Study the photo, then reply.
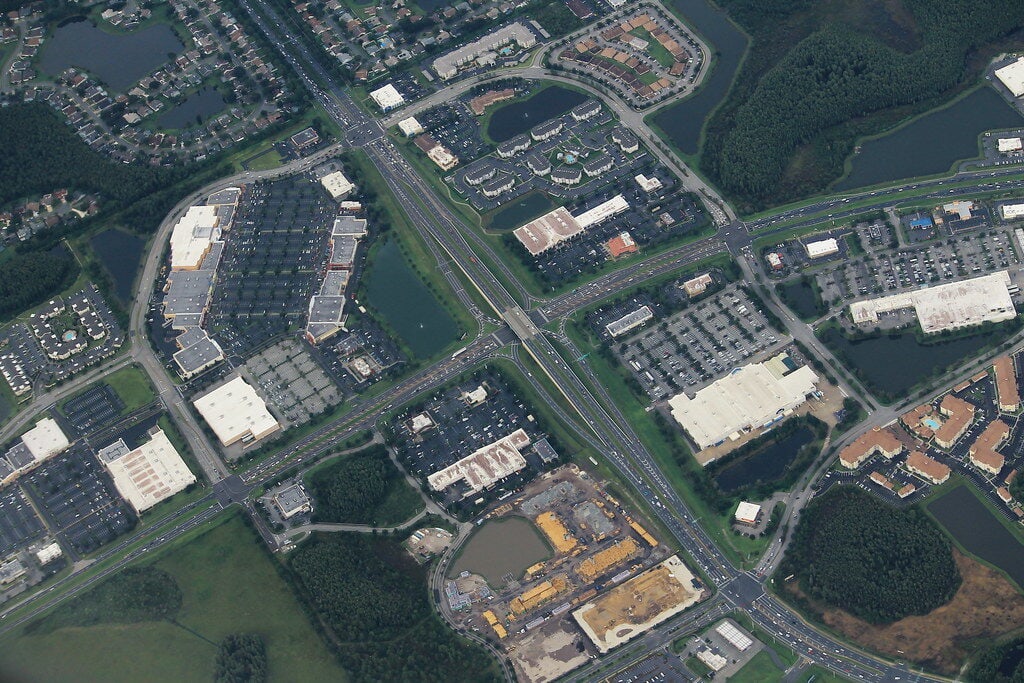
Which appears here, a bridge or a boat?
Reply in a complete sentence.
The one in the frame is a bridge.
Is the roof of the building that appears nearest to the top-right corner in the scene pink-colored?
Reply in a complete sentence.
No, the color of the roof of the building that appears nearest to the top-right corner is white.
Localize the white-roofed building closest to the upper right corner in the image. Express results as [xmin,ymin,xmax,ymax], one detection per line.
[994,56,1024,100]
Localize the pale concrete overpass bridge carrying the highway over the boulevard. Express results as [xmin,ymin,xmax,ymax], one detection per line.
[498,301,541,339]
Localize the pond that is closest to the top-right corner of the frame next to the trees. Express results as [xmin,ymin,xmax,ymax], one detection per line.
[830,87,1024,194]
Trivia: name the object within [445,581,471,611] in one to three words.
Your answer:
house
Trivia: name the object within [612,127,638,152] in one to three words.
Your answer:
building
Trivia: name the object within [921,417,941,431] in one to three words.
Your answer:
swimming pool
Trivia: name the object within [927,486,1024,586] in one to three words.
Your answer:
pond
